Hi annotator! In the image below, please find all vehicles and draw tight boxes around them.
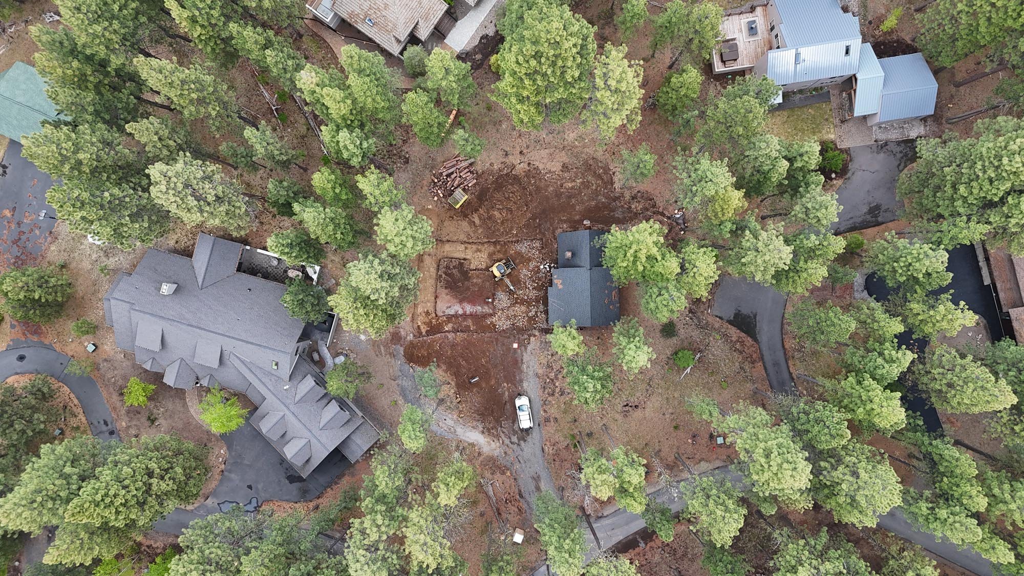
[488,257,516,290]
[517,396,533,430]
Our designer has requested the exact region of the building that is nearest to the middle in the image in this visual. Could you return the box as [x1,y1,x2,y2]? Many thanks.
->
[548,230,620,326]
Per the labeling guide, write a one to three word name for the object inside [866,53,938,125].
building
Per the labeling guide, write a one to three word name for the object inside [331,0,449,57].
house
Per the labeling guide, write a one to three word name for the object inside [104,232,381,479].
house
